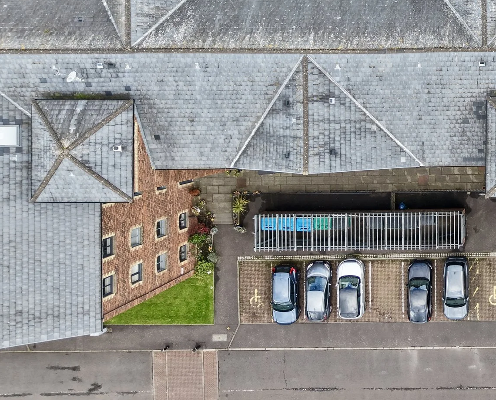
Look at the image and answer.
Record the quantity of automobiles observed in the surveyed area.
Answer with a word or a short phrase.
5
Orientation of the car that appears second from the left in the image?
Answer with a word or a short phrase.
from top to bottom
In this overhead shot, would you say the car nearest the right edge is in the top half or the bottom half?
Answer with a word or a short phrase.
bottom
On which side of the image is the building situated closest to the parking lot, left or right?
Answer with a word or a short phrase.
right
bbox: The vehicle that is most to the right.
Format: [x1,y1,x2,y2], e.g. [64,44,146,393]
[441,254,469,315]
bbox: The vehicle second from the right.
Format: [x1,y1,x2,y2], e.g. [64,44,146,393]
[406,256,435,320]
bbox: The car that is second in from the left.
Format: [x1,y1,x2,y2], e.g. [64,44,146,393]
[305,258,335,319]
